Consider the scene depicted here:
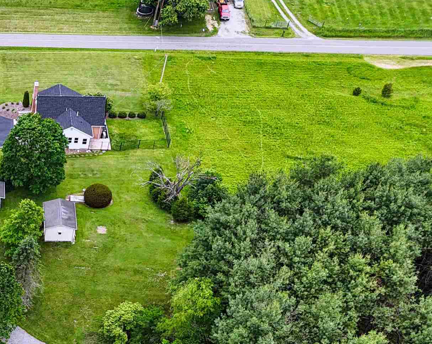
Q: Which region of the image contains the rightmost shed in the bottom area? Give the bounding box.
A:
[44,198,76,244]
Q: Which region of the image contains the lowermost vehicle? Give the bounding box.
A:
[214,12,230,25]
